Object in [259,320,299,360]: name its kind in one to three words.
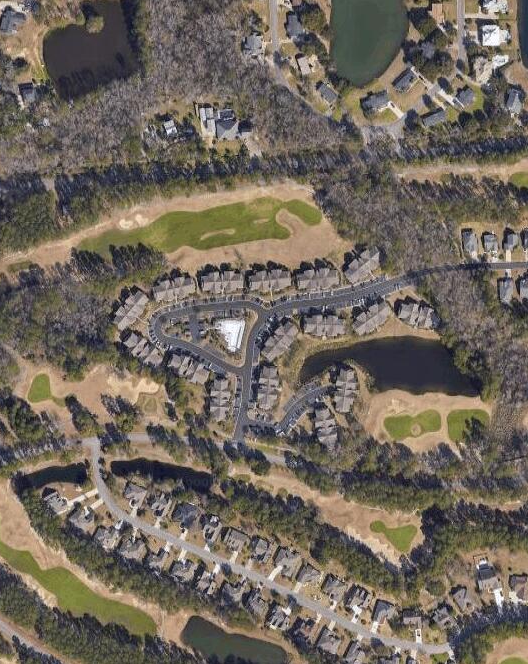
building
